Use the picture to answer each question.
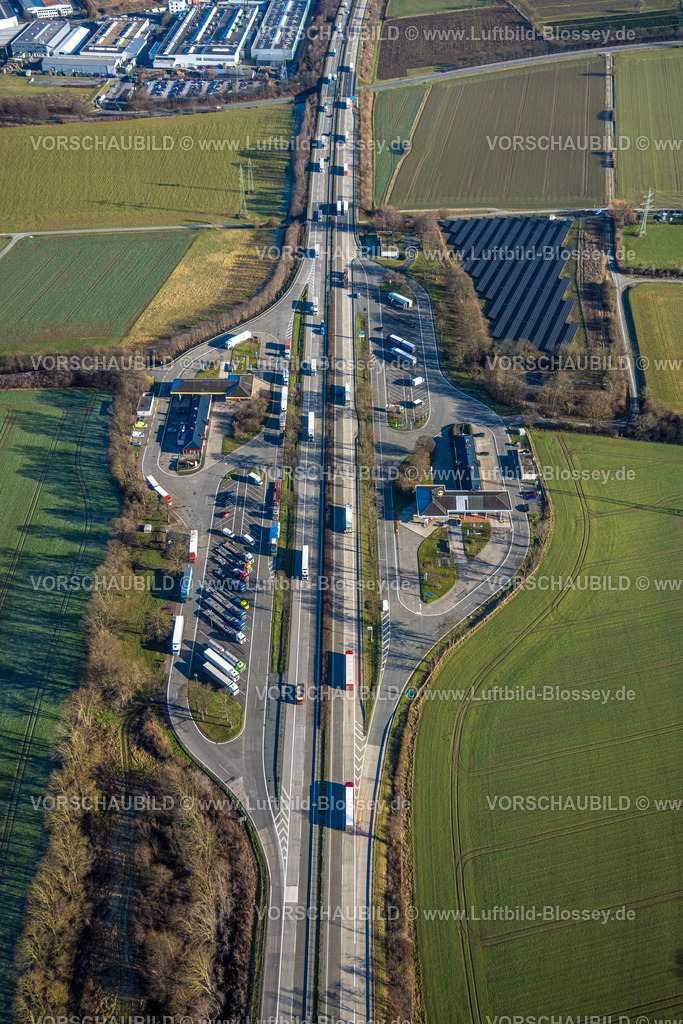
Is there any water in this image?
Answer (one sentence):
No, water can't be seen anywhere here.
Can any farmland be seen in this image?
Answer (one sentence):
Yes, farmland shows up in the scene.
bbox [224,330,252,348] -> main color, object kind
white vehicle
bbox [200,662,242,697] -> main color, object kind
white truck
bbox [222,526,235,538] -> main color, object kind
white vehicle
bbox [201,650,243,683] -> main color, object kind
white truck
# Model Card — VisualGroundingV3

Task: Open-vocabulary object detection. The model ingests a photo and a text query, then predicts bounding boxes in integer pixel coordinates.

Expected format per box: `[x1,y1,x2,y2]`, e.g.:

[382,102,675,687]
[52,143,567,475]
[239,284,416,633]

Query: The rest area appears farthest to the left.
[132,228,314,1024]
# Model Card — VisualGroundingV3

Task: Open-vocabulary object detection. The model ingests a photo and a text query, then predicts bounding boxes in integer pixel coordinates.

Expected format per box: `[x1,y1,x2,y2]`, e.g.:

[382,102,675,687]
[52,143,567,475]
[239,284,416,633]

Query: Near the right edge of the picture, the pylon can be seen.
[635,187,650,237]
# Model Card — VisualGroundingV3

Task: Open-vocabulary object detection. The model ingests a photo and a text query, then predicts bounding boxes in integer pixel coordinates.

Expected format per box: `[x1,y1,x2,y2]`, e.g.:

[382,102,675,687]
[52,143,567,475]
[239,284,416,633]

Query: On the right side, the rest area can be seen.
[350,225,545,1024]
